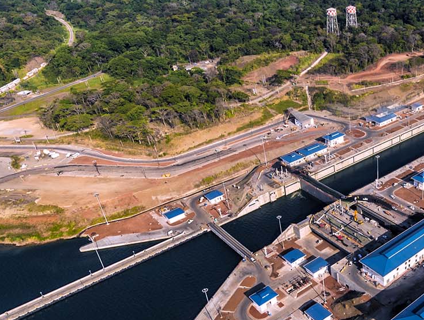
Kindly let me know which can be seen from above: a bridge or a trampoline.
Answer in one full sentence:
The image shows a bridge.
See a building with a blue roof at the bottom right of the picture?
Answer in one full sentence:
Yes, a building with a blue roof shows up at the bottom right of the picture.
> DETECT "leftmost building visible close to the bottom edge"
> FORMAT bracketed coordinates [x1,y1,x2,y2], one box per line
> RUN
[249,285,279,312]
